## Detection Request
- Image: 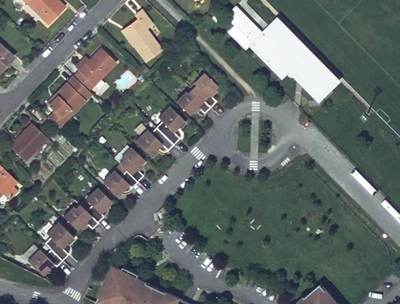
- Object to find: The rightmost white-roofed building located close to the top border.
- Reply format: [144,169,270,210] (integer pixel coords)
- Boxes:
[228,6,342,104]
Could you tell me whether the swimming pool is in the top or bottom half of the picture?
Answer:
top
